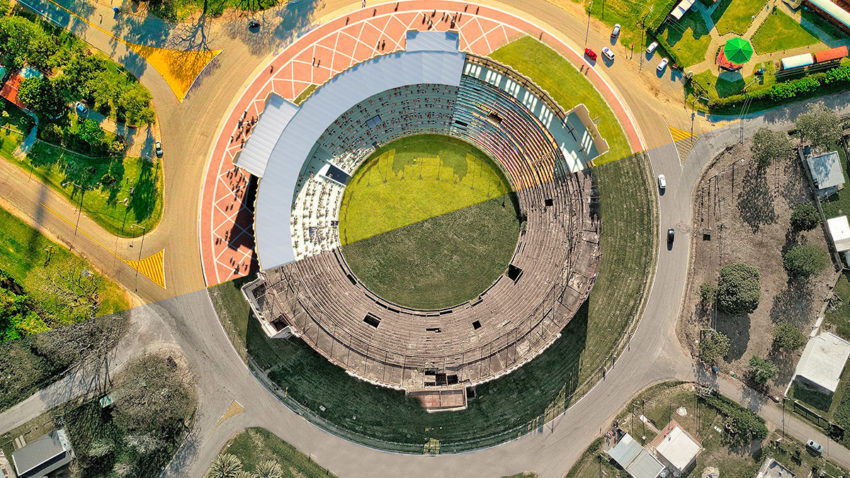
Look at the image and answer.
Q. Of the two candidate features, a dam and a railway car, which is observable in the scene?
railway car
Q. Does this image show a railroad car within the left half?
No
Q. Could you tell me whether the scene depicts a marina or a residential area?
residential area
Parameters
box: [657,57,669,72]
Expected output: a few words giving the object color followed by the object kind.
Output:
white vehicle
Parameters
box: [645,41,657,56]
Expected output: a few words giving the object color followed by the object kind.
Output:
white vehicle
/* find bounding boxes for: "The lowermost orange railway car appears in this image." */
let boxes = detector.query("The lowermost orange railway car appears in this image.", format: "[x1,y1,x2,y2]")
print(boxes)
[809,46,849,66]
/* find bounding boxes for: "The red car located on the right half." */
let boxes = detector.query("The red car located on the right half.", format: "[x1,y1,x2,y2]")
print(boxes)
[583,48,598,61]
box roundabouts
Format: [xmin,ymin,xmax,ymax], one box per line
[154,0,700,478]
